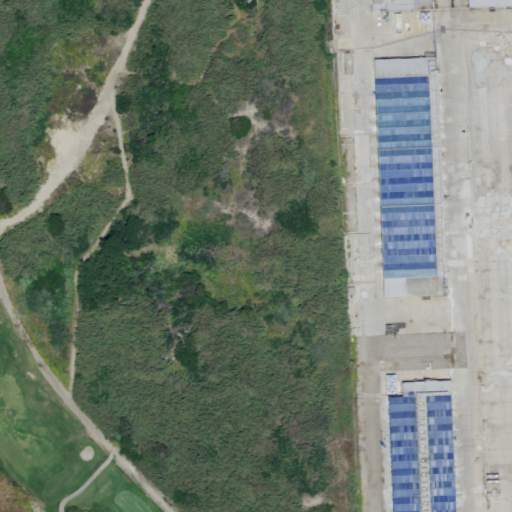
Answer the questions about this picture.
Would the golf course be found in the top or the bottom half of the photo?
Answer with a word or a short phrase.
bottom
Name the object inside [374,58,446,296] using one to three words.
building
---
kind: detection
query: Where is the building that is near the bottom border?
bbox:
[388,378,456,512]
